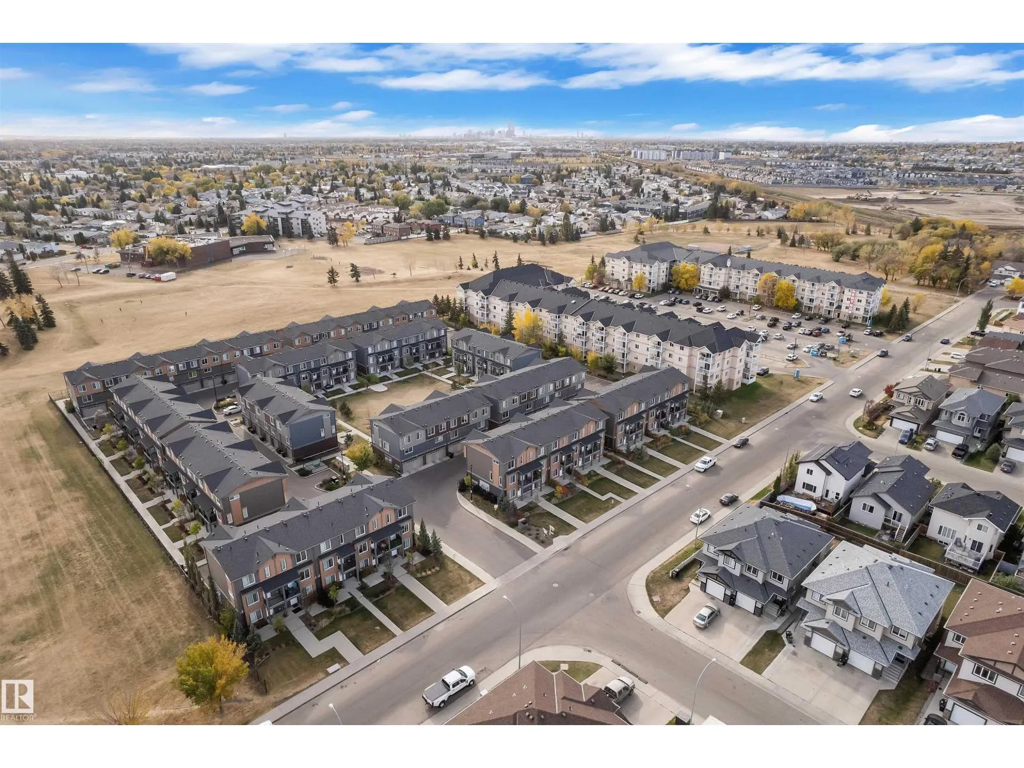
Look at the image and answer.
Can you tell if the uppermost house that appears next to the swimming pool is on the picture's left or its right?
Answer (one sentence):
You can find the uppermost house that appears next to the swimming pool on the right side of the picture.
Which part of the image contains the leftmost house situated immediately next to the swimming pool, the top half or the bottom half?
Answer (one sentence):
The leftmost house situated immediately next to the swimming pool is in the bottom half of the image.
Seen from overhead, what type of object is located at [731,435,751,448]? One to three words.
vehicle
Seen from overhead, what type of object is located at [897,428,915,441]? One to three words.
vehicle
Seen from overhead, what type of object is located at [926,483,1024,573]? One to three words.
house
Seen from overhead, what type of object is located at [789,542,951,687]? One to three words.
house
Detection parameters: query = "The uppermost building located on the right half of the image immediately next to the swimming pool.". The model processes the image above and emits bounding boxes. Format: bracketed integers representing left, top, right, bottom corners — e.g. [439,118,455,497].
[794,440,878,501]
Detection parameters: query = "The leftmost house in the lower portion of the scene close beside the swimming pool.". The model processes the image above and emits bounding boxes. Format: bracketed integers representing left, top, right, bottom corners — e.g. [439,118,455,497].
[686,504,834,624]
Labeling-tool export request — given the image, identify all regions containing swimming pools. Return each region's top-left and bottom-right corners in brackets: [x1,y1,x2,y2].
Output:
[778,491,820,510]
